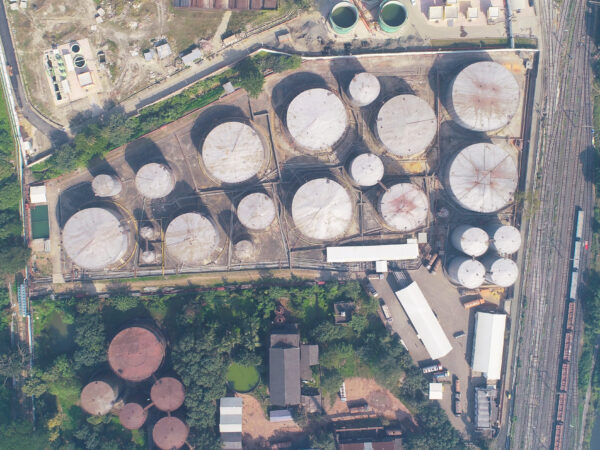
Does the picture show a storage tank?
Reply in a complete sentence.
Yes, you can see a storage tank in this photo.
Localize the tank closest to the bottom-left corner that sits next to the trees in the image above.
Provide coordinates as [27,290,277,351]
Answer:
[80,373,124,415]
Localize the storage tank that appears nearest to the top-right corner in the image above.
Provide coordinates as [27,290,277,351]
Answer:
[442,61,520,135]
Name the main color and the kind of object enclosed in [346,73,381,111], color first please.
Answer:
white storage tank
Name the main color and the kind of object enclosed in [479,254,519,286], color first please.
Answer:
white storage tank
